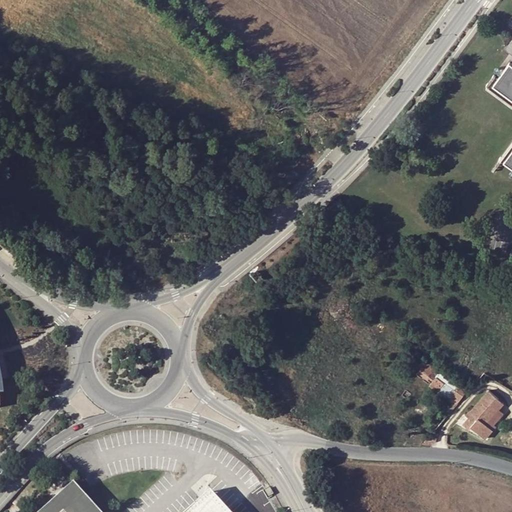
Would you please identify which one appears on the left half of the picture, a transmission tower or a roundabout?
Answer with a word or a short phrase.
roundabout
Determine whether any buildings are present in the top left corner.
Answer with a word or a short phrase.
No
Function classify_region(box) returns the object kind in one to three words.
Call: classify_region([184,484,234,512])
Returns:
building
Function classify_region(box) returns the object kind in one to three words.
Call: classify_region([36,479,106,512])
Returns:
building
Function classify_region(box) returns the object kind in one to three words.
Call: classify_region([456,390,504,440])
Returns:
house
